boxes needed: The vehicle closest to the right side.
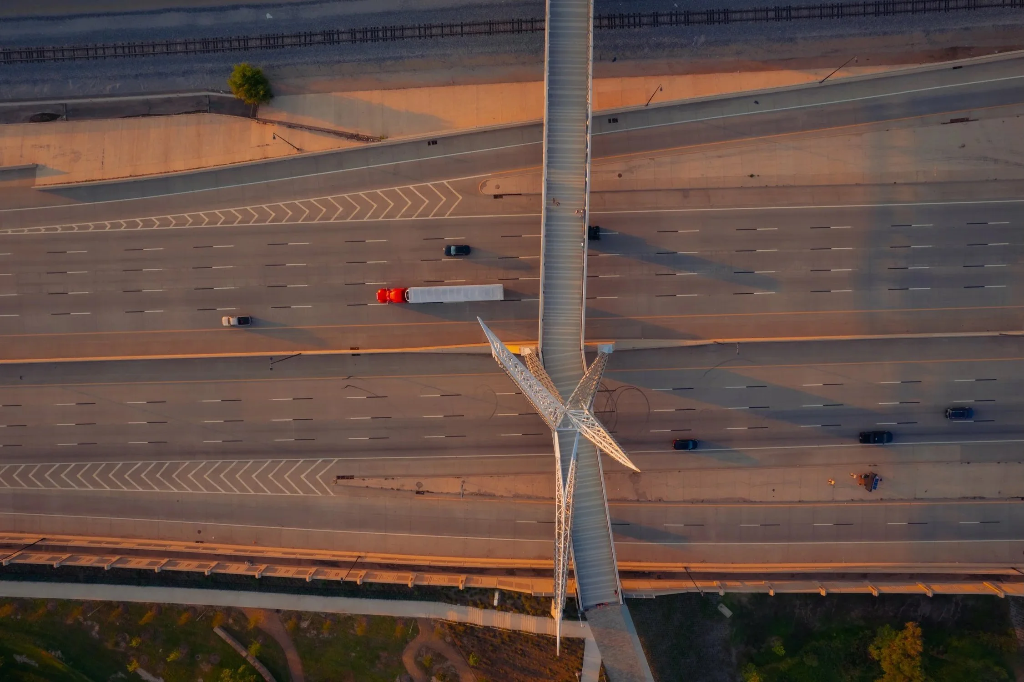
[942,407,972,420]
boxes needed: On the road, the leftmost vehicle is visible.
[223,314,253,328]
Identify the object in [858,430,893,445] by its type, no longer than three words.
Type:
vehicle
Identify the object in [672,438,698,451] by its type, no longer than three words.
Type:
vehicle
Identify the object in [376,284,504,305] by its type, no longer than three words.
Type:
truck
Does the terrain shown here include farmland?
No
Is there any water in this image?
No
